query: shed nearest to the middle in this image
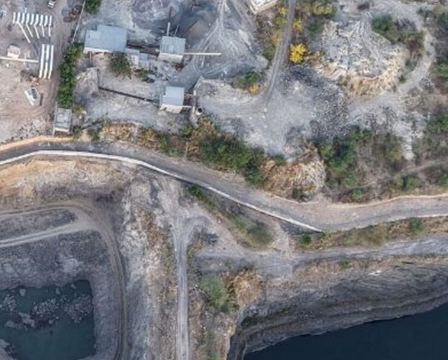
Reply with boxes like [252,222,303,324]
[157,85,184,114]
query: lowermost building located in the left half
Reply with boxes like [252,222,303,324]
[56,108,71,129]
